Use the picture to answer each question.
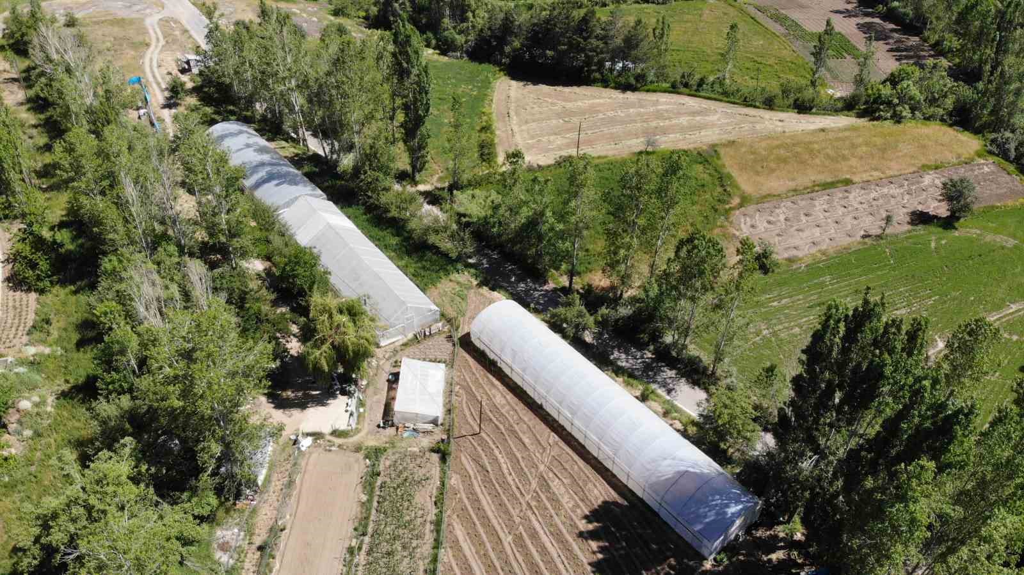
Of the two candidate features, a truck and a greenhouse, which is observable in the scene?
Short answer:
greenhouse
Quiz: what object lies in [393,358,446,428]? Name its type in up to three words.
greenhouse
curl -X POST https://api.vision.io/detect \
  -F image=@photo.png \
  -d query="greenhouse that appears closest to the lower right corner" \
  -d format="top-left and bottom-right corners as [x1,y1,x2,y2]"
[472,299,756,559]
